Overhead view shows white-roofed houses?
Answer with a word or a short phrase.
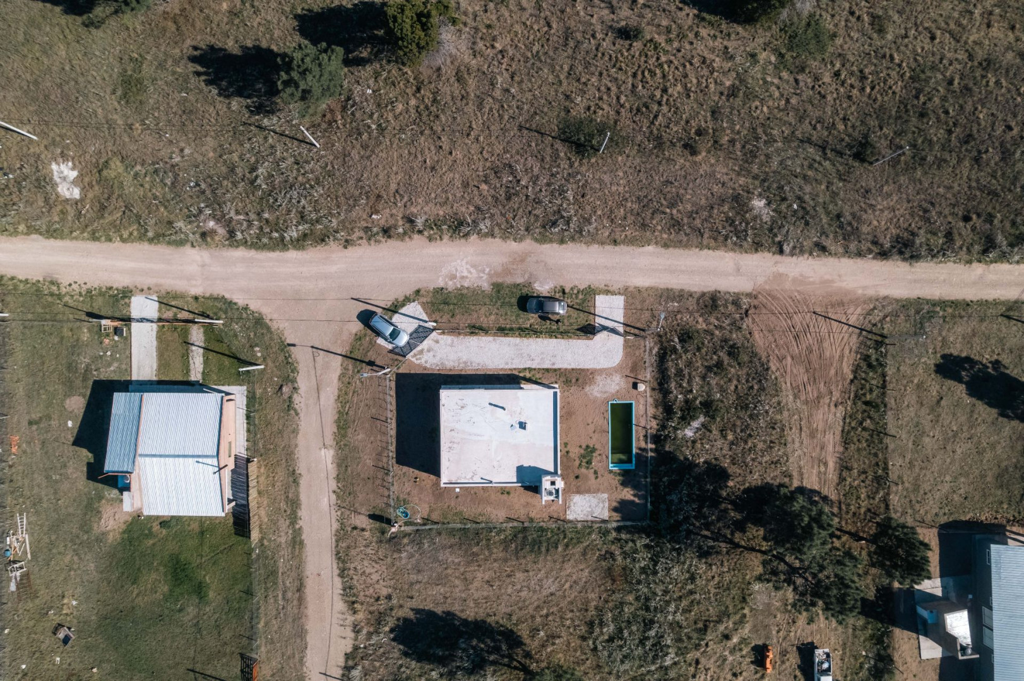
Yes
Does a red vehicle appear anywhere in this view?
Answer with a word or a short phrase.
No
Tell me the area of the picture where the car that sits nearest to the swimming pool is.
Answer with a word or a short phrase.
center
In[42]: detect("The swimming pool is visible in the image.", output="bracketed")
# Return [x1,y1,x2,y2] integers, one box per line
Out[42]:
[608,397,635,470]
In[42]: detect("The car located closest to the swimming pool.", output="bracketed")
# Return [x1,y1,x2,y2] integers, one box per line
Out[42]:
[527,294,568,316]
